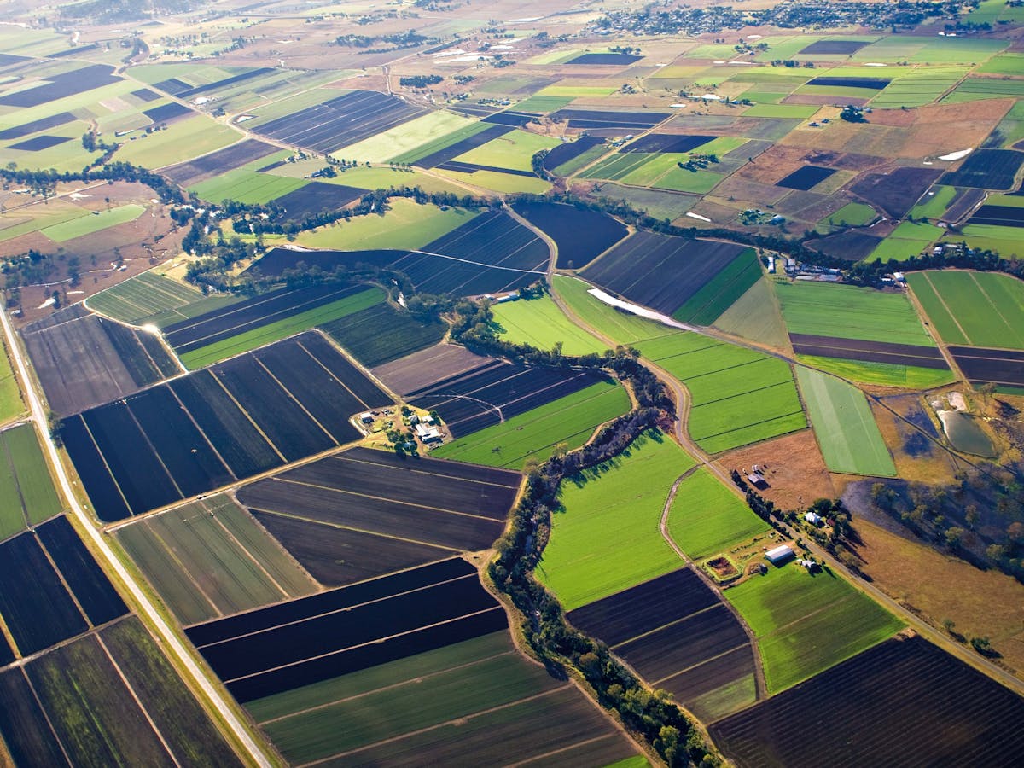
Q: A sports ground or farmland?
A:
farmland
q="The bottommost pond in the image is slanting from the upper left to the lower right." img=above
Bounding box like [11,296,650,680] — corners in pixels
[937,410,996,456]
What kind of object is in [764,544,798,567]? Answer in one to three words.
shed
